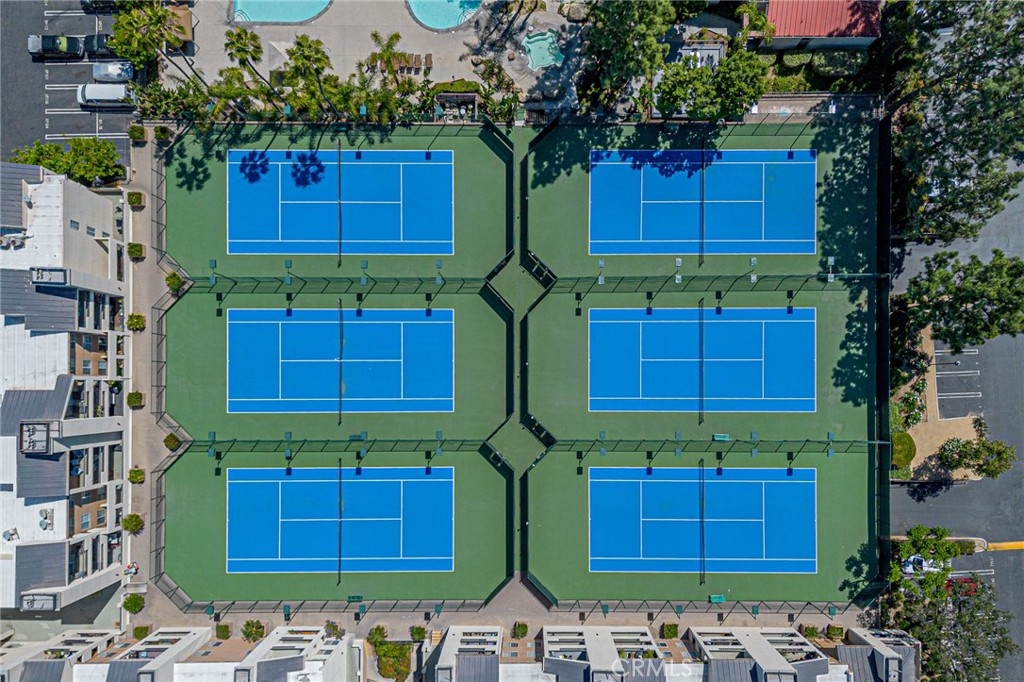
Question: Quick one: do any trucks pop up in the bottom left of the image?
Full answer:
No, I see no truck in the bottom left of the image.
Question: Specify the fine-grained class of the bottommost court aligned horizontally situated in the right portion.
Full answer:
It turns out the bottommost court aligned horizontally situated in the right portion is a tennis court.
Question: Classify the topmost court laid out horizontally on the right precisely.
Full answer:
I'd identify the topmost court laid out horizontally on the right as a tennis court.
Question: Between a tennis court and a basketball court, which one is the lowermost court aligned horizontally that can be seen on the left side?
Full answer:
In the photo, the lowermost court aligned horizontally that can be seen on the left side shows up as a tennis court.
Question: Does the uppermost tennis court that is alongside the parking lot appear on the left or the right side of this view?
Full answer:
The uppermost tennis court that is alongside the parking lot sits on the left side.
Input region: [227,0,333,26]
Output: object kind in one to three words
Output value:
swimming pool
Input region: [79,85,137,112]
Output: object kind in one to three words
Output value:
vehicle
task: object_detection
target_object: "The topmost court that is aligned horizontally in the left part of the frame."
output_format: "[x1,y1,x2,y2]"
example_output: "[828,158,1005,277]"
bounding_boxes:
[163,123,513,281]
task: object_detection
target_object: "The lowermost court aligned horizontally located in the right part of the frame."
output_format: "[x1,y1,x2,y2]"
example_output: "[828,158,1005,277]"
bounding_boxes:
[527,441,877,601]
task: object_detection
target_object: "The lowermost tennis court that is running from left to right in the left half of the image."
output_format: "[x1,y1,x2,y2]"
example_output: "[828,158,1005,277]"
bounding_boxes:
[164,441,513,601]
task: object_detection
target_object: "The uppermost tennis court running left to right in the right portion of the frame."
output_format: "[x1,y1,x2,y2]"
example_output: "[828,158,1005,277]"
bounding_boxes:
[527,123,877,281]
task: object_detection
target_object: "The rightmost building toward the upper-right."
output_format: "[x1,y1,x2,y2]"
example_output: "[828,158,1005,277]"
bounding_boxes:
[766,0,886,49]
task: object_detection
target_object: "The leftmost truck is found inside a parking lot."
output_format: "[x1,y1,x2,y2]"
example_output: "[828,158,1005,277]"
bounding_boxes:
[29,35,88,62]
